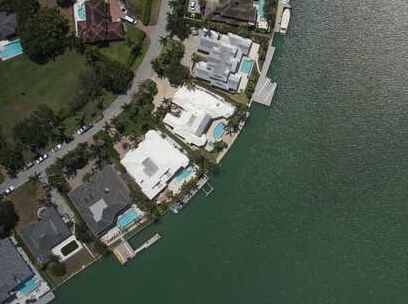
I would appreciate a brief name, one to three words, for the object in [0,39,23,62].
swimming pool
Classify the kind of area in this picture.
residential area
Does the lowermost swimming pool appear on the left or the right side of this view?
left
